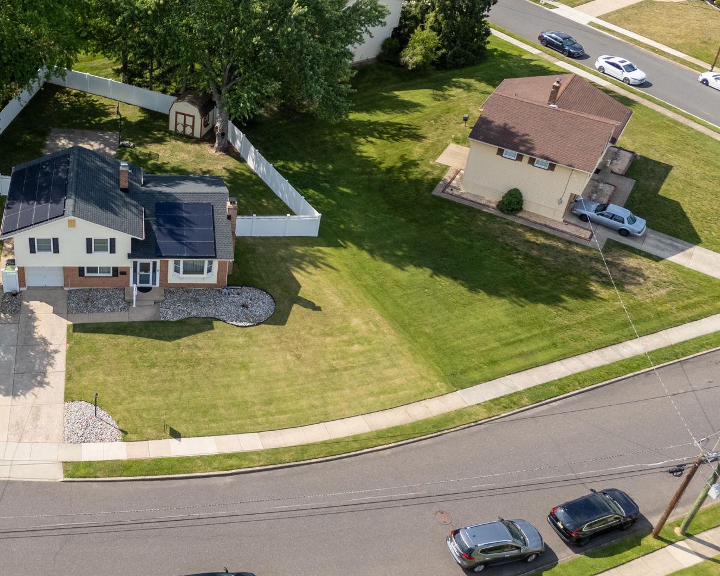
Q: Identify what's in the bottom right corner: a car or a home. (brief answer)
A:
car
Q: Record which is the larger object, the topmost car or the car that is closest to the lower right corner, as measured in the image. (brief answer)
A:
the car that is closest to the lower right corner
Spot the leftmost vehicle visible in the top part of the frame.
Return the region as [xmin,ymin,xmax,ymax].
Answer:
[541,32,584,56]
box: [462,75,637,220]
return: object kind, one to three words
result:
house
